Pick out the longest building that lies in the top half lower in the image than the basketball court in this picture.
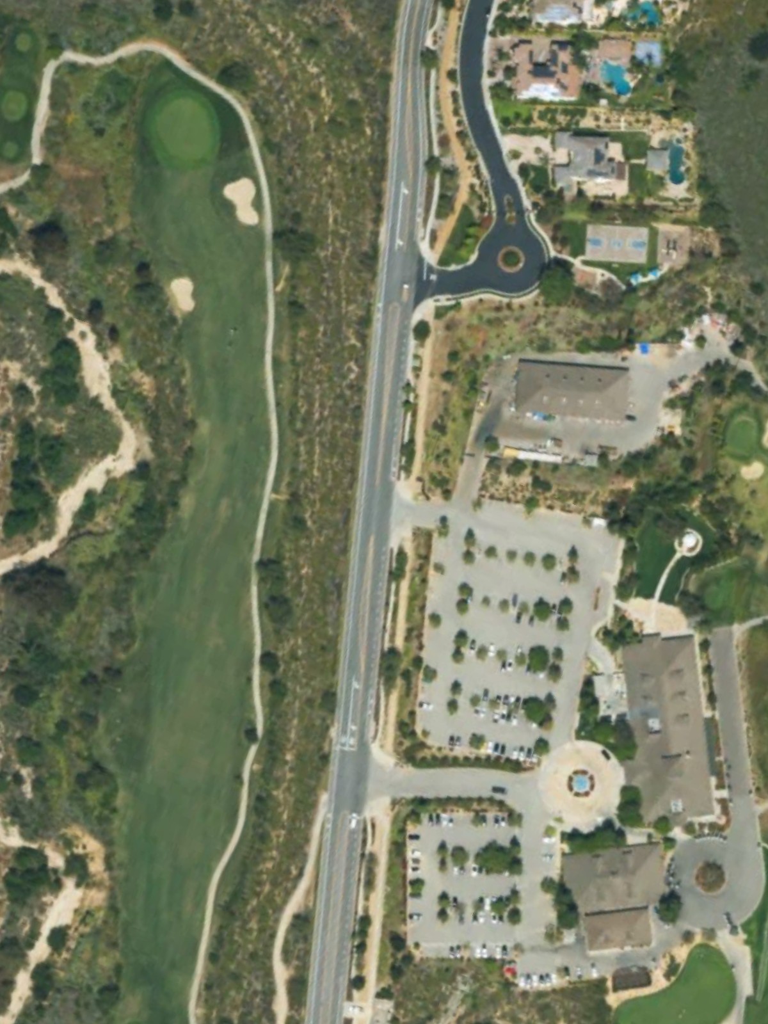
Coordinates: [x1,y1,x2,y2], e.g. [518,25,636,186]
[516,362,629,421]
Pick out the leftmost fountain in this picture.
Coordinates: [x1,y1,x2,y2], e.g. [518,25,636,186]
[567,770,595,797]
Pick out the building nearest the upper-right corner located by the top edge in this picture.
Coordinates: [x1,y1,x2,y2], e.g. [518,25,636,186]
[635,41,662,66]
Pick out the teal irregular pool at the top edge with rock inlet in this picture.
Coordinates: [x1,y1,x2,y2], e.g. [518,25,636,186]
[629,0,660,26]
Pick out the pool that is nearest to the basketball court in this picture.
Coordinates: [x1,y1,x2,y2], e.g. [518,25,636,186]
[669,142,685,185]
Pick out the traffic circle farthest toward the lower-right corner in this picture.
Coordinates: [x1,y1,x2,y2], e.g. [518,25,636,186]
[667,812,765,932]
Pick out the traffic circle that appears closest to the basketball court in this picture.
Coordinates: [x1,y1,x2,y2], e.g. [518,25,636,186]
[483,230,540,287]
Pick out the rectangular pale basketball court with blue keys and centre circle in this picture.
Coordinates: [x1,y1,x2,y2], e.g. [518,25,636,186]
[586,225,648,264]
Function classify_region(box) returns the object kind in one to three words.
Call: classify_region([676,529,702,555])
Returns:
gazebo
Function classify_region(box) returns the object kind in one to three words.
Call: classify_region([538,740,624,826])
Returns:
roundabout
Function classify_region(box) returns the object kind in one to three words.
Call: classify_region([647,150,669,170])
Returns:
building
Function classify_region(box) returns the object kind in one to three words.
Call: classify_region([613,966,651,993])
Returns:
shed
